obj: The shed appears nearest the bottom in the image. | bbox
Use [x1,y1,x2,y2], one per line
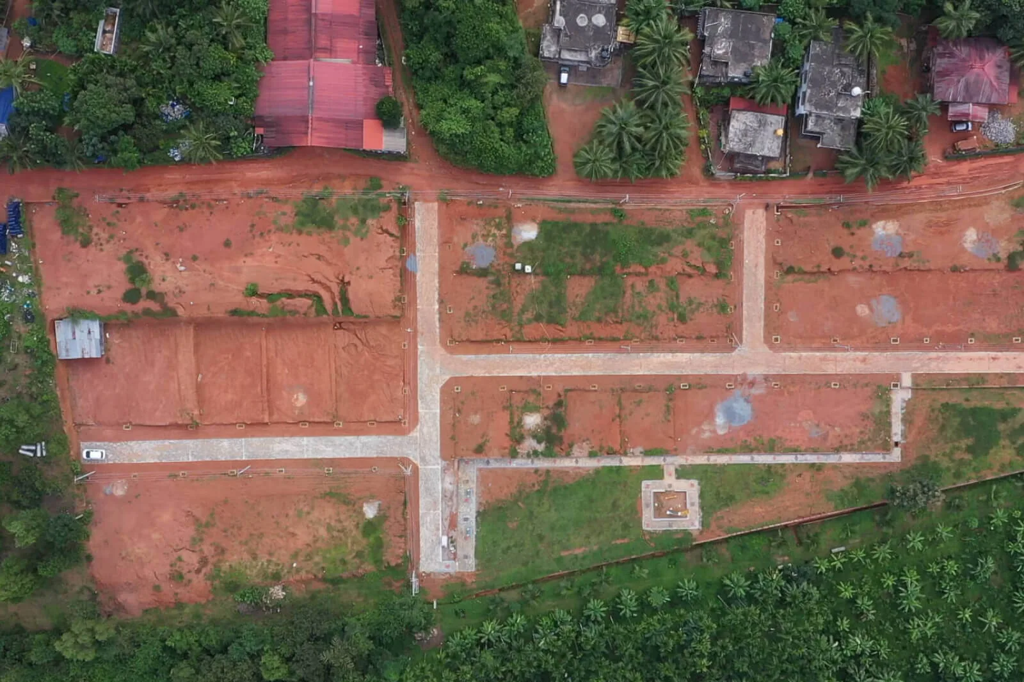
[55,318,105,359]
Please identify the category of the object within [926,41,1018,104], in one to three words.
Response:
house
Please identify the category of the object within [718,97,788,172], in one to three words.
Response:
house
